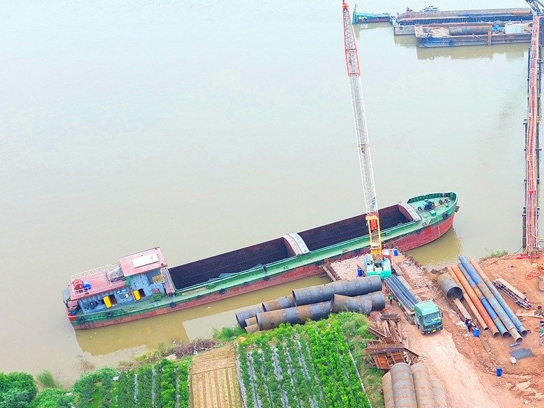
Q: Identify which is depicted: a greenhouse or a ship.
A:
ship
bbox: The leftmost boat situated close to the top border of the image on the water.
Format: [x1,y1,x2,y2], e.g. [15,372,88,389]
[353,0,393,23]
